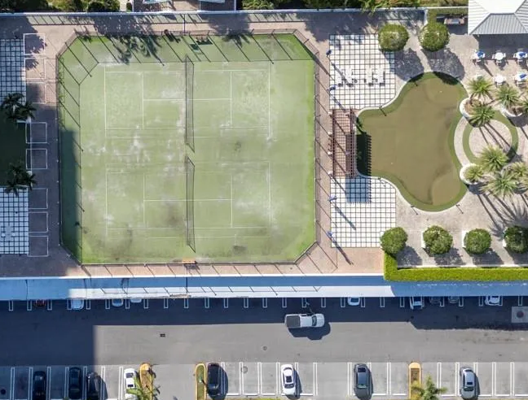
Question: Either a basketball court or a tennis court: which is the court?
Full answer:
The court appears to be a tennis court.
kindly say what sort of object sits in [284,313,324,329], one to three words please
vehicle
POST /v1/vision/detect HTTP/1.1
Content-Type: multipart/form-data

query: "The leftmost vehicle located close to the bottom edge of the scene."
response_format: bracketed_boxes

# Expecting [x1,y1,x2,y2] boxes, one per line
[31,371,47,400]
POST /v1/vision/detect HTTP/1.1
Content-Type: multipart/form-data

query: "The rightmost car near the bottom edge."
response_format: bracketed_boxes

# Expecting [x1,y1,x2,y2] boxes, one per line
[459,367,474,398]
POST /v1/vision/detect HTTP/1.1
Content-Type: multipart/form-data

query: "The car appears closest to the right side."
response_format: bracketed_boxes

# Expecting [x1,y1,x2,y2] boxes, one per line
[484,295,500,308]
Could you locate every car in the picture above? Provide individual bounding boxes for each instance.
[281,365,296,396]
[459,367,474,398]
[427,296,441,306]
[484,295,500,308]
[86,371,101,400]
[207,365,222,396]
[446,296,460,306]
[344,297,360,308]
[111,298,124,309]
[68,299,83,311]
[123,368,137,400]
[130,298,143,306]
[408,296,424,311]
[31,371,47,400]
[32,299,47,309]
[355,365,370,397]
